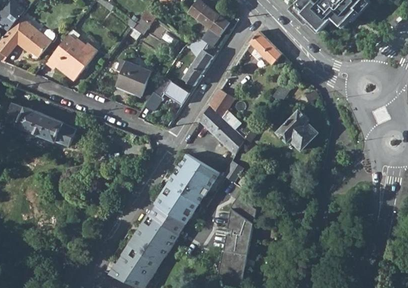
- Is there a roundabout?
Yes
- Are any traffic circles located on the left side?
No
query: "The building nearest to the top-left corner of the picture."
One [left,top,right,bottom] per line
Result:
[0,0,30,31]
